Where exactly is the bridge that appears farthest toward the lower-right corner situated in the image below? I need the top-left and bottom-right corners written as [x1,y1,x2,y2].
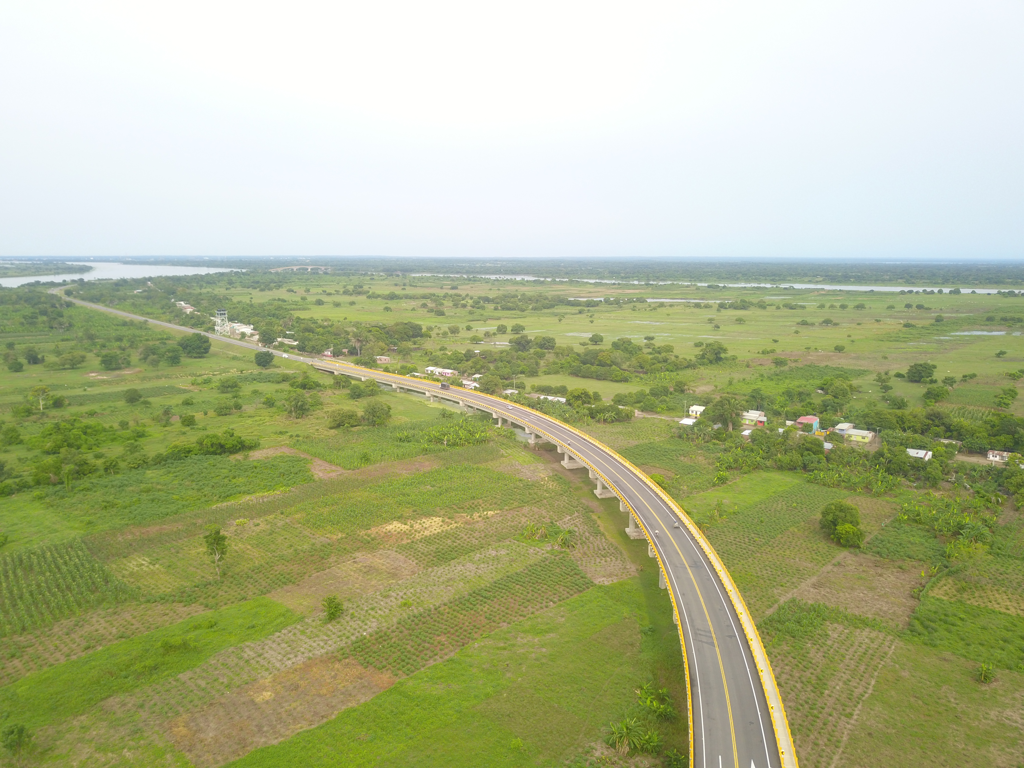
[300,359,807,768]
